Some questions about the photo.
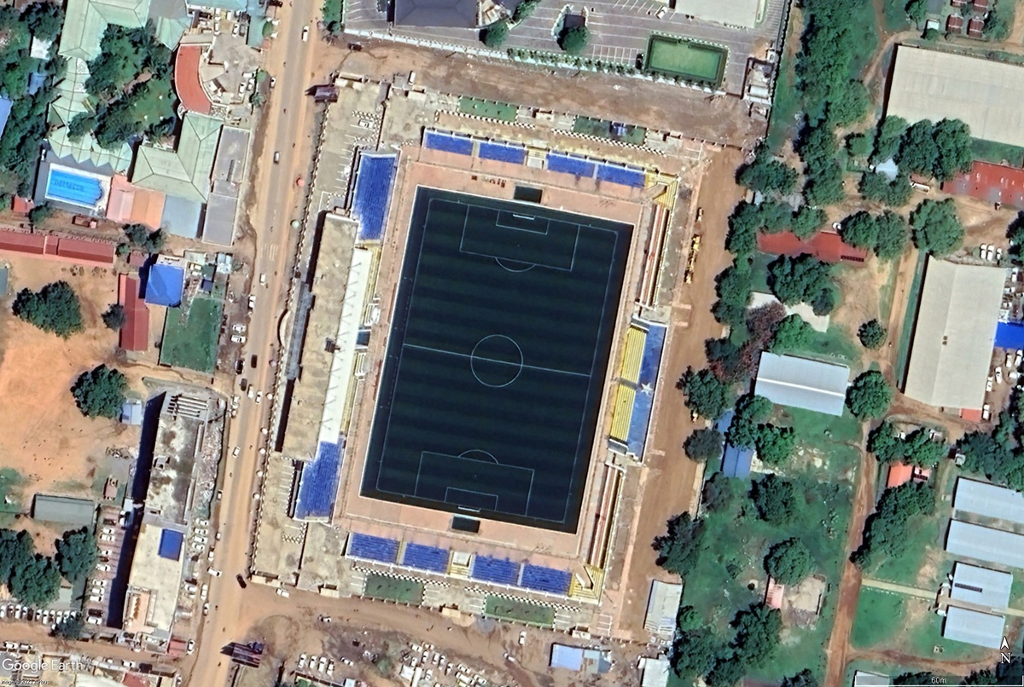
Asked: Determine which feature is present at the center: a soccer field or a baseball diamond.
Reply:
soccer field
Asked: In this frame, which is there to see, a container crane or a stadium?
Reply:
stadium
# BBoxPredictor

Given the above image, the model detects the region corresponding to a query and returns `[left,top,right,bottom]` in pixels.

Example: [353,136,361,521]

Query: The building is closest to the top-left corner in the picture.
[30,35,53,58]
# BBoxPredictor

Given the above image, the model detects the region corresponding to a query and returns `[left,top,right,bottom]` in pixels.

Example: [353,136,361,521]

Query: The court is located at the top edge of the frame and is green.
[642,34,729,90]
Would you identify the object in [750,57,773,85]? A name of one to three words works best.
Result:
building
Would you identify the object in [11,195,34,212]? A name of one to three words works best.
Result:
shed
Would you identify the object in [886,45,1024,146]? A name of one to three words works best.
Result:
barn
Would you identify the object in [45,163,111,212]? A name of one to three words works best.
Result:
swimming pool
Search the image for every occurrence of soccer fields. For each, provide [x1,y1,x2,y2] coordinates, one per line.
[361,187,633,533]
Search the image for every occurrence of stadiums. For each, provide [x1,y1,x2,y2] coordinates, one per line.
[253,82,706,641]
